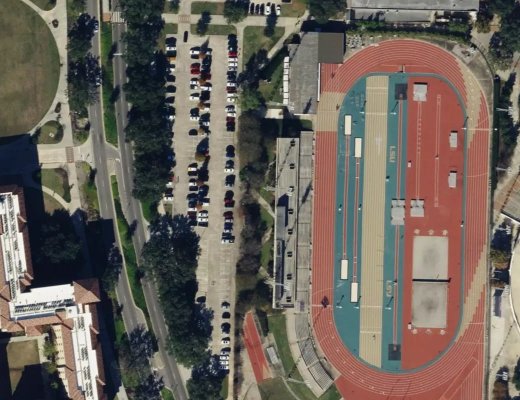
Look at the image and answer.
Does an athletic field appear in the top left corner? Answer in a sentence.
No, there's no athletic field to be seen in the top left corner.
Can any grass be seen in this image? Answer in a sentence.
Yes, some grass is visible.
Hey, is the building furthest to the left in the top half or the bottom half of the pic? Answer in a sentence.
The bottom half of the photo is where the building furthest to the left is.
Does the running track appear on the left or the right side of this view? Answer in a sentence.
The running track is on the right side of the image.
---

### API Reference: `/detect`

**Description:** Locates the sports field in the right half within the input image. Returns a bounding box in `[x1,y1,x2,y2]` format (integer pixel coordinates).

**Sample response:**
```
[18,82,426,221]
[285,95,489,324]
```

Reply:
[334,64,466,371]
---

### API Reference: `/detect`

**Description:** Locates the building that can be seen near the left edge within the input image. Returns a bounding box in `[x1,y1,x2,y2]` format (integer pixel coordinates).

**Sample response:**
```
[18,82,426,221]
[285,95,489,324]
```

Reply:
[0,185,108,400]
